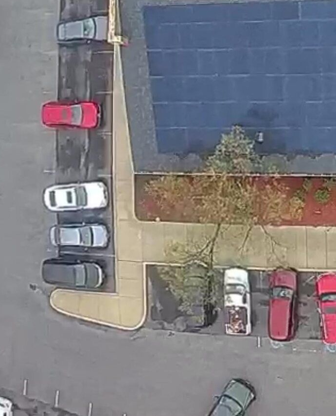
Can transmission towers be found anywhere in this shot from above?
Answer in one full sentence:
No, there isn't any transmission tower down there.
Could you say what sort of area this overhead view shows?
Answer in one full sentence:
It's a parking lot.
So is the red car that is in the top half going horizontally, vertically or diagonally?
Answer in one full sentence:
In this picture, the red car that is in the top half is oriented horizontally.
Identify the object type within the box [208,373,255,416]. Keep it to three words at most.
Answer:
car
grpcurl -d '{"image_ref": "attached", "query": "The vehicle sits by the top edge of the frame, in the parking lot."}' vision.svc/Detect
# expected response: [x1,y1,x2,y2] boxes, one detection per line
[55,14,112,43]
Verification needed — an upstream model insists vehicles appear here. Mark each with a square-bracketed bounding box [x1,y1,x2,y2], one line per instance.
[315,272,336,347]
[48,222,110,252]
[208,373,255,416]
[181,263,215,331]
[0,396,21,416]
[265,268,301,343]
[42,181,109,213]
[55,14,112,43]
[39,259,108,291]
[39,100,105,130]
[221,267,255,338]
